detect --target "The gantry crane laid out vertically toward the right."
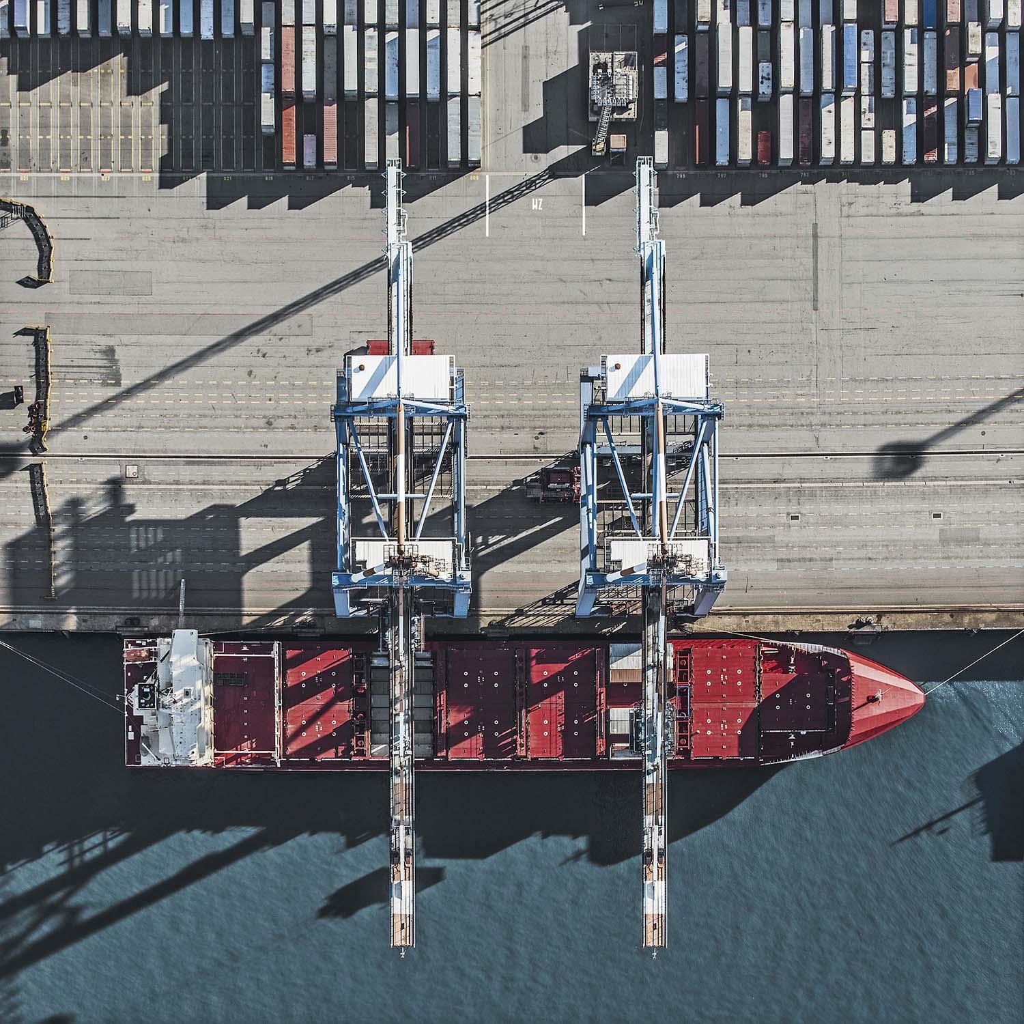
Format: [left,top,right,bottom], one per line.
[575,159,732,958]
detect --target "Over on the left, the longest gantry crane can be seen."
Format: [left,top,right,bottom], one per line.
[327,159,479,959]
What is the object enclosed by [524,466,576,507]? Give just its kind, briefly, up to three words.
work vehicle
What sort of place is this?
port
